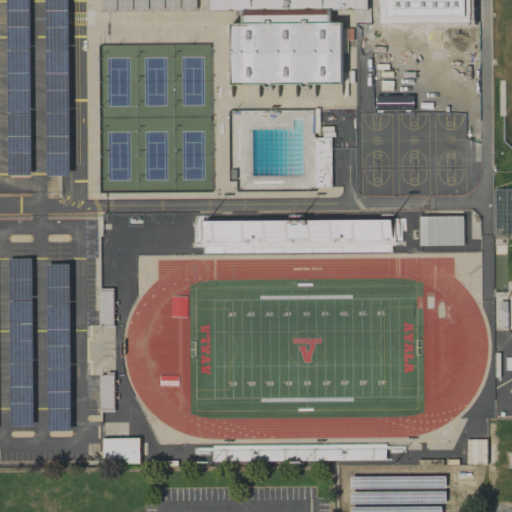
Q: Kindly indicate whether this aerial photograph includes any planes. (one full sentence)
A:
No, the frame has no plane in it.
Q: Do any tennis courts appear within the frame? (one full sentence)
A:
Yes, the frame does contain a tennis court.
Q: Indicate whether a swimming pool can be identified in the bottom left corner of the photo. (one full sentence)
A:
No, there is no swimming pool in the bottom left corner of the photo.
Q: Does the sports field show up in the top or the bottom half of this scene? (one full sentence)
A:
The sports field sits in the bottom half of the picture.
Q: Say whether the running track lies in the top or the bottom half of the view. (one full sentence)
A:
It is in the bottom half that the running track appears.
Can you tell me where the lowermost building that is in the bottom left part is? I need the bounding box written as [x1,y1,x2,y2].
[103,438,140,464]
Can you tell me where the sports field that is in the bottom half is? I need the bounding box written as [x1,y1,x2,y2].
[190,280,423,418]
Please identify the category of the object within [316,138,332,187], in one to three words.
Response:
building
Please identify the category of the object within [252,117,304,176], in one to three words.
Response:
swimming pool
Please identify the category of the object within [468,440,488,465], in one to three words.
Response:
barn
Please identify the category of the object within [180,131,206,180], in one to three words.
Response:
tennis court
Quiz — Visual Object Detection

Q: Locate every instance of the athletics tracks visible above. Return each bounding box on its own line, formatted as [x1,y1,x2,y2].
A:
[128,259,488,438]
